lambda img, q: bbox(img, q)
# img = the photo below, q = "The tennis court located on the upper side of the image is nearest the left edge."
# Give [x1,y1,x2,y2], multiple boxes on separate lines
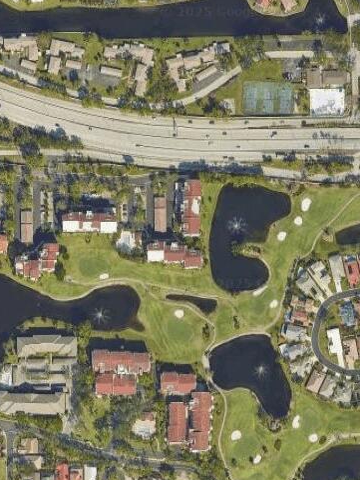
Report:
[244,82,260,114]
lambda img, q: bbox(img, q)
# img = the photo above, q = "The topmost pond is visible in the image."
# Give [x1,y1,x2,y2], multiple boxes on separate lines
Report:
[0,0,348,39]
